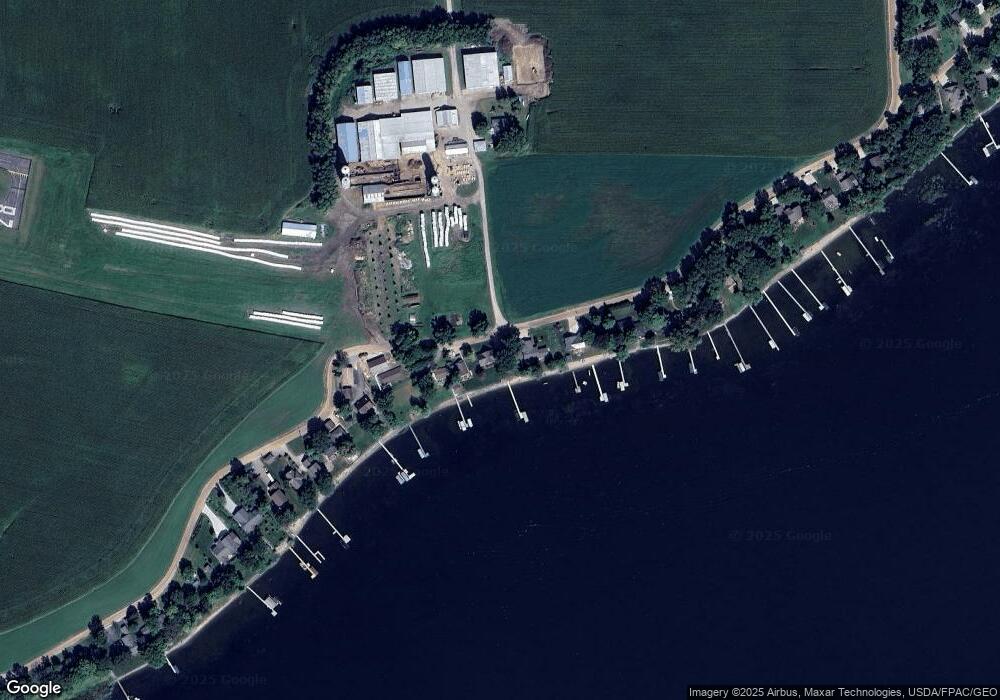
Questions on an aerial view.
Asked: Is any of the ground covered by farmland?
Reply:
Yes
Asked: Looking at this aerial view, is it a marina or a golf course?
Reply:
marina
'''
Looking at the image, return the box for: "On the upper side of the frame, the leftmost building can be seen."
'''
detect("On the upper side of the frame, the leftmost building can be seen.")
[282,223,316,237]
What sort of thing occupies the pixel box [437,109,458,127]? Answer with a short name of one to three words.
shed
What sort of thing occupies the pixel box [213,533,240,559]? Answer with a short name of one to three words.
house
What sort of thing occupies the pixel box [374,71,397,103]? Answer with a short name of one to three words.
barn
